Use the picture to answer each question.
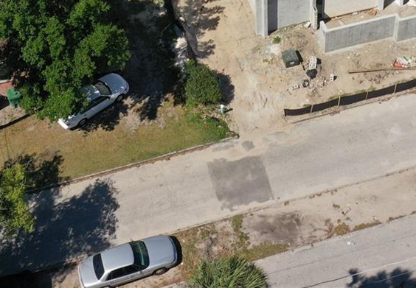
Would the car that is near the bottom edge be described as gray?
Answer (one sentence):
Yes, the car that is near the bottom edge appears gray.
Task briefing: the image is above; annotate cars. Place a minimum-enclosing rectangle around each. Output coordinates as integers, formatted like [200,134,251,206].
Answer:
[52,77,137,138]
[75,232,180,288]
